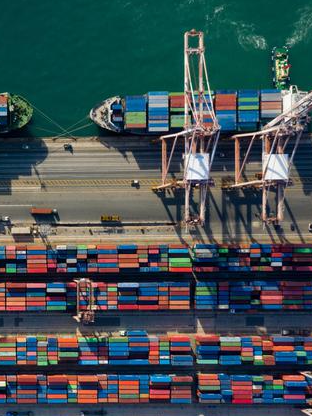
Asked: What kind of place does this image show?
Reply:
port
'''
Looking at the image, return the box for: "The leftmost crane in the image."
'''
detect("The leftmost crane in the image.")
[67,273,93,323]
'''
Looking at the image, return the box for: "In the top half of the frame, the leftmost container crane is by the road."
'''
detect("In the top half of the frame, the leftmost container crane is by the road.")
[146,30,223,228]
